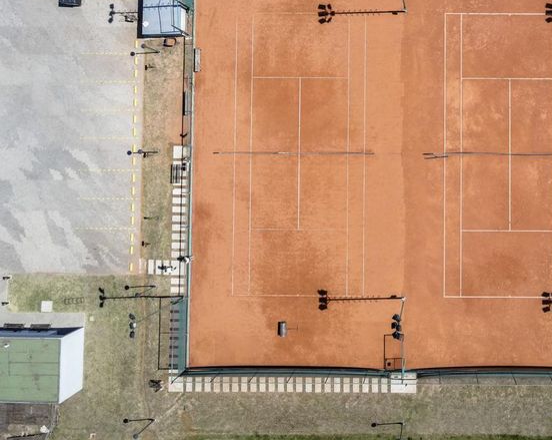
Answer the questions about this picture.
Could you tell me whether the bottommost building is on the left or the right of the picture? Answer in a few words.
left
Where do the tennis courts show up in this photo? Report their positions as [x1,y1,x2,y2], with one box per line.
[404,0,552,369]
[187,0,404,369]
